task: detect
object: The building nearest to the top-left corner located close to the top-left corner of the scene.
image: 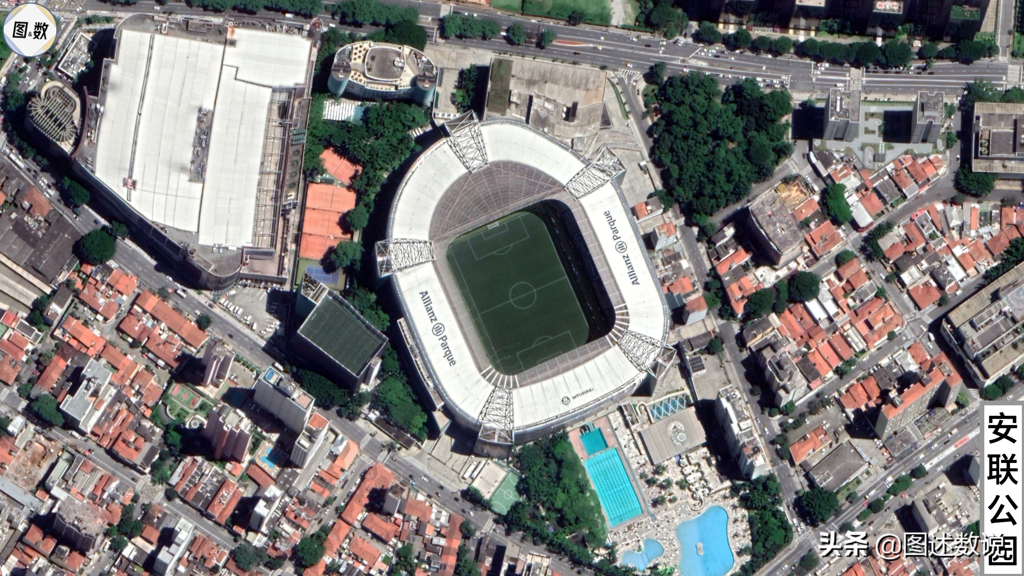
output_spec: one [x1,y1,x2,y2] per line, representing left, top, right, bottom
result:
[58,33,94,81]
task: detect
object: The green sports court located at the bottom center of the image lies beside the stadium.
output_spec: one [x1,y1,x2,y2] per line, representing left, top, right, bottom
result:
[491,472,516,516]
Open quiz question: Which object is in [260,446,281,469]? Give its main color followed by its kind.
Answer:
blue swimming pool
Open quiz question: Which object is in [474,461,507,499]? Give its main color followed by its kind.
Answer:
white sports court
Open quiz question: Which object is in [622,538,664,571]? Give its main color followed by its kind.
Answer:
blue swimming pool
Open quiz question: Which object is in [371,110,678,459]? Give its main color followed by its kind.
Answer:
white stadium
